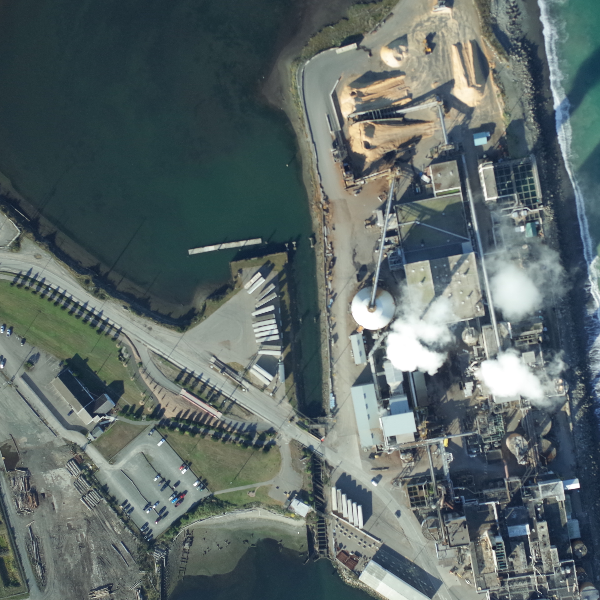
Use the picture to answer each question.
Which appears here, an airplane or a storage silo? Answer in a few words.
storage silo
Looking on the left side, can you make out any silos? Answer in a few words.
No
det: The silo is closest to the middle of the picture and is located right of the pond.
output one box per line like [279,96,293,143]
[351,286,395,330]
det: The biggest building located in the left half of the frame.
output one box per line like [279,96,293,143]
[51,369,95,415]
